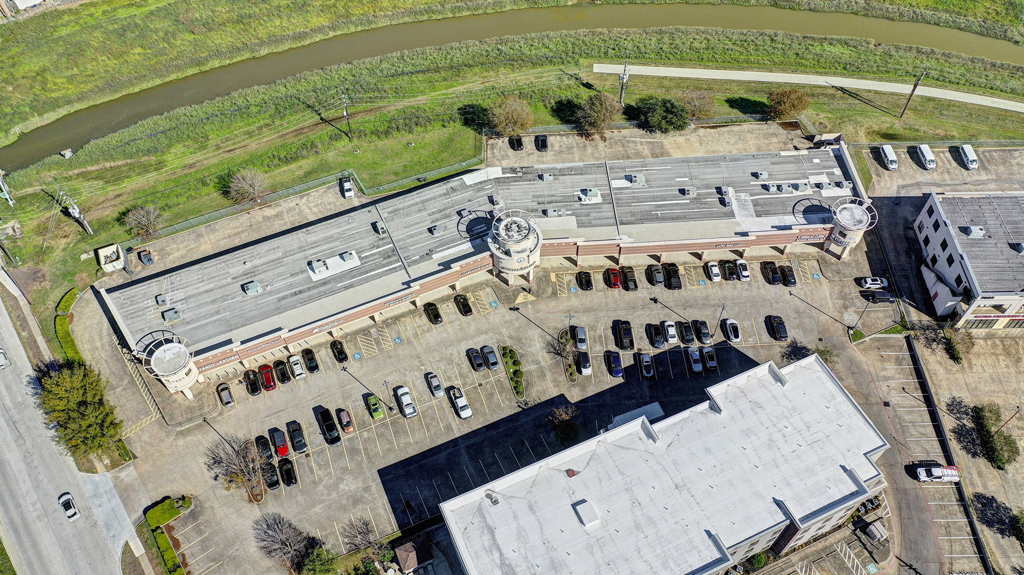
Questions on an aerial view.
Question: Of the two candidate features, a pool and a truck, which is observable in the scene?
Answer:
truck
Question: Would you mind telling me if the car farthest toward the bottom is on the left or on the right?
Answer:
left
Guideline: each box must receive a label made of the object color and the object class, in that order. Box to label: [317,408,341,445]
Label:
black truck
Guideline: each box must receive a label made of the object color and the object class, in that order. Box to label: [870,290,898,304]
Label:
black car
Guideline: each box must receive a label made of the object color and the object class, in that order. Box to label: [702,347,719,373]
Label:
black car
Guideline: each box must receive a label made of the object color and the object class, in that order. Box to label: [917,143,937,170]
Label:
white vehicle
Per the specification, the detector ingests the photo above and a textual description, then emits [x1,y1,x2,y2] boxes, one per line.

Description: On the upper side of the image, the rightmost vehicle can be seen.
[959,143,979,170]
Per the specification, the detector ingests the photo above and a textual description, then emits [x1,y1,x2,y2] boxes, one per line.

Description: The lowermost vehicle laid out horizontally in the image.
[916,466,963,484]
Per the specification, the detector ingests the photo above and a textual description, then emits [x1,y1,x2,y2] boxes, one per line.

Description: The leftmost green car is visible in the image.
[367,395,384,421]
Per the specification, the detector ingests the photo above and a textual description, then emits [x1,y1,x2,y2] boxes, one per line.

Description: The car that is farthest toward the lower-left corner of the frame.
[58,492,81,523]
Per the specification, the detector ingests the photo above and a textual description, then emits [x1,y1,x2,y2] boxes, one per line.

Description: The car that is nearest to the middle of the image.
[455,293,474,318]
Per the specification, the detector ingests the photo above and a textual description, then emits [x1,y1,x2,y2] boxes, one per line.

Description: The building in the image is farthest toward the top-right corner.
[911,187,1024,327]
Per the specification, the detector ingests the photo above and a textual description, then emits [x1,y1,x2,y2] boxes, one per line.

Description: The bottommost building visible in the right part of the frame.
[439,354,890,575]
